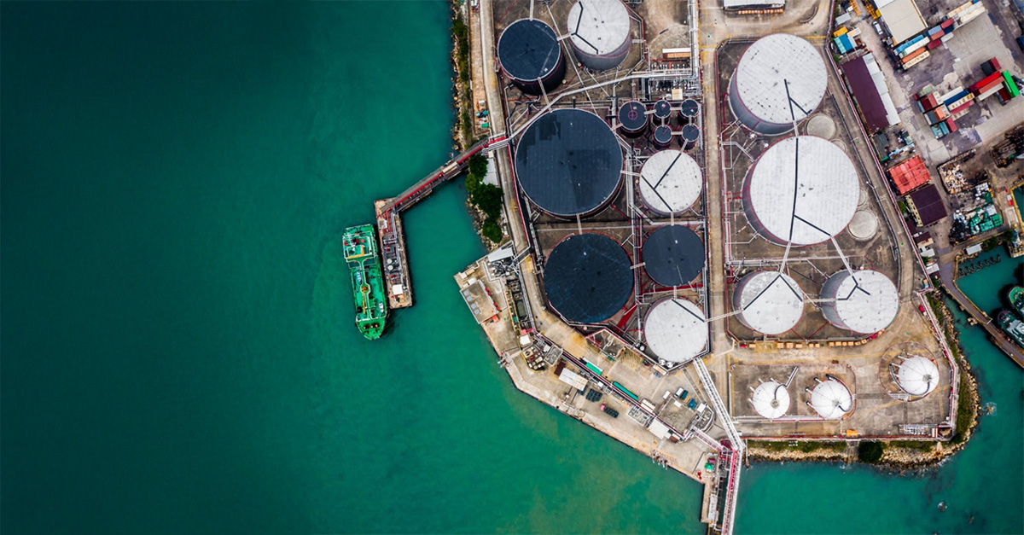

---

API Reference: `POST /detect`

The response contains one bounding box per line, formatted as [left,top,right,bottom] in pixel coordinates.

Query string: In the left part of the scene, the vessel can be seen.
[343,224,388,340]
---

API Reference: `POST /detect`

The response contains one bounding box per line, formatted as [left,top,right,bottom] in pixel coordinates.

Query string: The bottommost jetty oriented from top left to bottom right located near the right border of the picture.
[942,275,1024,366]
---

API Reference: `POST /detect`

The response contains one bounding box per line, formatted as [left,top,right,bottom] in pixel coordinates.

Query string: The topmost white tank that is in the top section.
[568,0,632,71]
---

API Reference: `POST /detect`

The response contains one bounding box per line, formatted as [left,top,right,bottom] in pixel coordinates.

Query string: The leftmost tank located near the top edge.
[498,19,567,95]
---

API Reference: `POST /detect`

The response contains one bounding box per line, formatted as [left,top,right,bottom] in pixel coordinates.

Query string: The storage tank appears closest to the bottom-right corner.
[887,350,940,398]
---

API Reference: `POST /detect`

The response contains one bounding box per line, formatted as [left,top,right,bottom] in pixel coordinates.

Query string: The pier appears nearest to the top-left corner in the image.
[374,198,416,309]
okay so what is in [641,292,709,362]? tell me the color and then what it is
white storage tank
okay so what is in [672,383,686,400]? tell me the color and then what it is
white vehicle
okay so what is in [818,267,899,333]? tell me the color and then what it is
white storage tank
